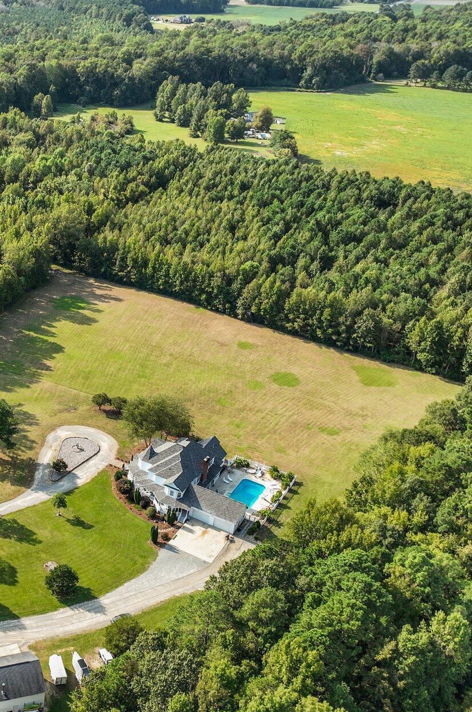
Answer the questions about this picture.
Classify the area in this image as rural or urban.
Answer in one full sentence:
This place is rural.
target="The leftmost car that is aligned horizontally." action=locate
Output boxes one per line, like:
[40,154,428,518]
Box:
[109,609,135,625]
